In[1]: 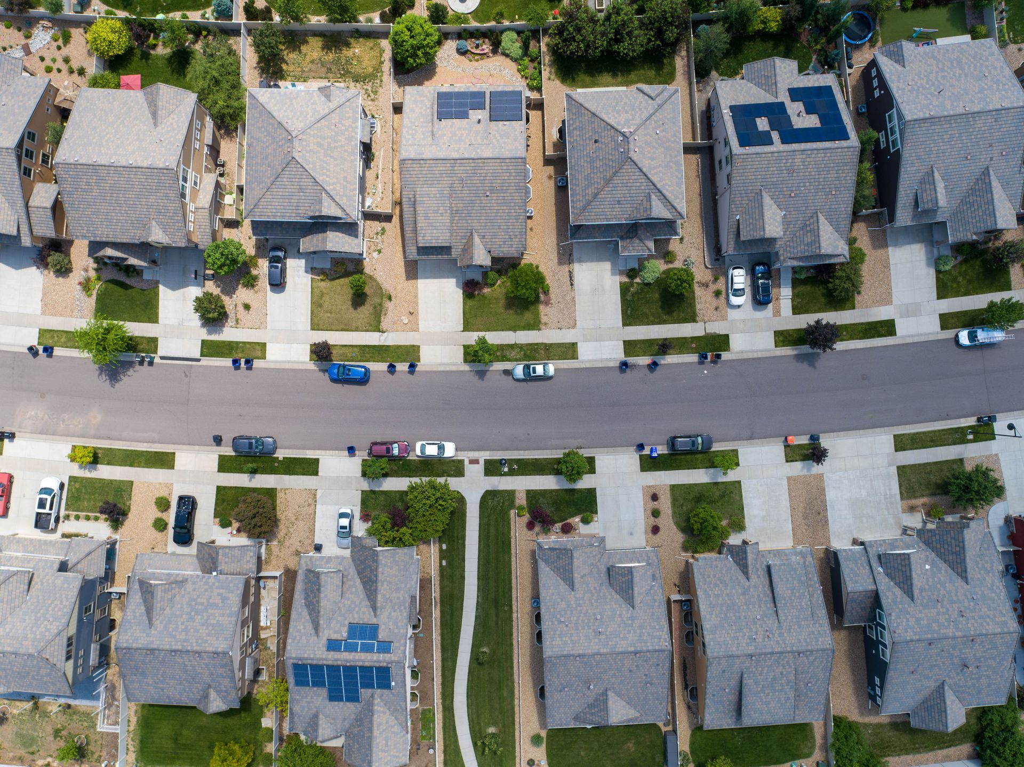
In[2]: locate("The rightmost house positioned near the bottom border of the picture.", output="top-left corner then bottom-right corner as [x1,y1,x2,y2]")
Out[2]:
[829,512,1024,737]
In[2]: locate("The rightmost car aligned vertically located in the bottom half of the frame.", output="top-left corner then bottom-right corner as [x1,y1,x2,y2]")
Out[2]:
[334,506,354,549]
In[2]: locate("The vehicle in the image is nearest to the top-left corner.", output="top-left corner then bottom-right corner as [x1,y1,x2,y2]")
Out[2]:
[266,245,288,287]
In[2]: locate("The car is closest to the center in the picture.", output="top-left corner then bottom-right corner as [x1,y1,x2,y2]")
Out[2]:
[512,362,555,382]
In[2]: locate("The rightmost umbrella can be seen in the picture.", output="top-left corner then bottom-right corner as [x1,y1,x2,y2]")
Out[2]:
[123,75,142,90]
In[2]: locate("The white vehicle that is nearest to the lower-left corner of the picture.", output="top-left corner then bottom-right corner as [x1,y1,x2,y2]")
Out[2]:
[35,476,65,531]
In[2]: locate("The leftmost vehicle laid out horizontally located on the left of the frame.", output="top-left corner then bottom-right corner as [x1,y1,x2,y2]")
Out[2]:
[231,435,278,456]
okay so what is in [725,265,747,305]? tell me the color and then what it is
white car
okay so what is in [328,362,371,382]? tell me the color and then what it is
blue car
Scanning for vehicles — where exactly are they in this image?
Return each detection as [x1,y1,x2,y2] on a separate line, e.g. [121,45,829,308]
[328,362,371,382]
[750,262,773,306]
[172,492,198,546]
[954,327,1007,348]
[334,506,354,549]
[415,440,456,460]
[666,432,712,453]
[231,435,278,456]
[0,470,14,519]
[367,440,410,460]
[512,362,555,382]
[35,476,65,531]
[266,245,288,287]
[725,265,747,305]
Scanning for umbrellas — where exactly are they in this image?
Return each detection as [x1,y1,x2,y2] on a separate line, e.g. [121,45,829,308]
[123,75,142,90]
[59,83,80,109]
